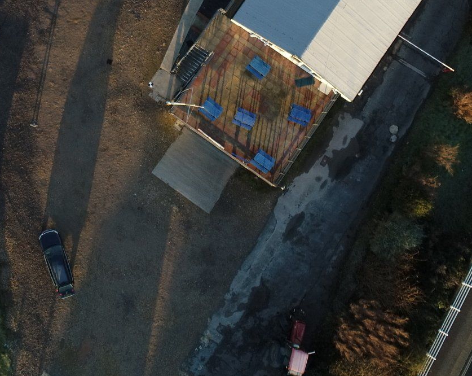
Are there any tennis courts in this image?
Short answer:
No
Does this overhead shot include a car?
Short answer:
Yes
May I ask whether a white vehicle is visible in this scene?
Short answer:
No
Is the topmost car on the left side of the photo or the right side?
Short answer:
left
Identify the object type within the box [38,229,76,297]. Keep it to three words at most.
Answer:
car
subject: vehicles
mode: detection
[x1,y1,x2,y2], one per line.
[38,229,76,297]
[273,299,314,375]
